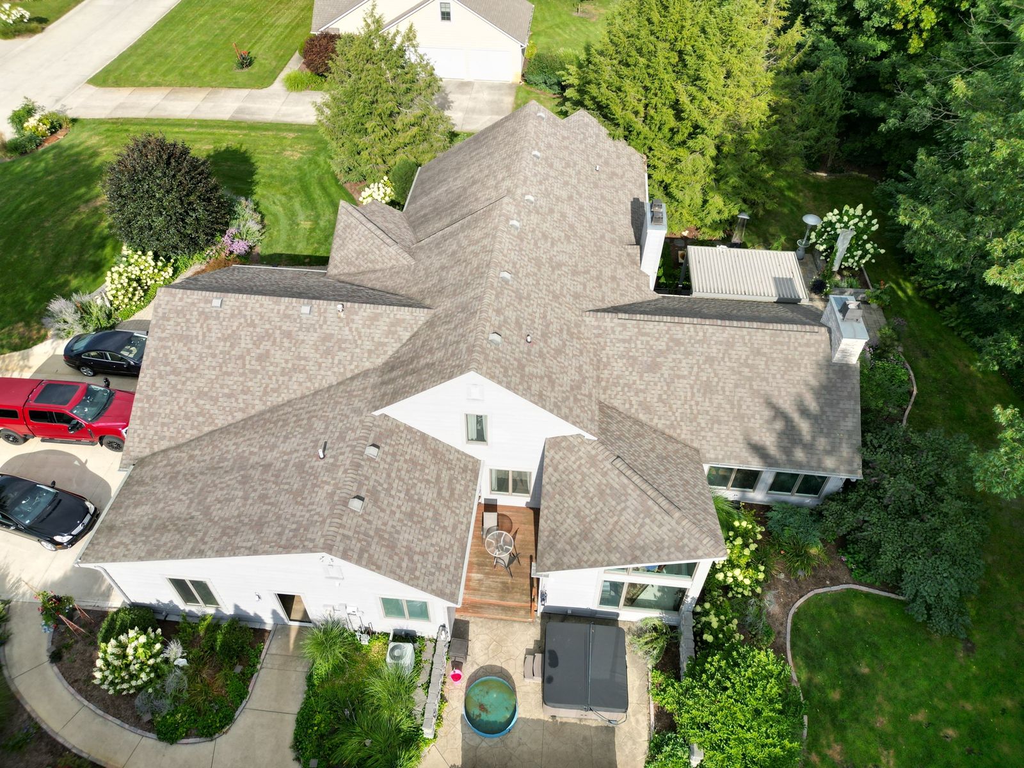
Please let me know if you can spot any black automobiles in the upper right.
No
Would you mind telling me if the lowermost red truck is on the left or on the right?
left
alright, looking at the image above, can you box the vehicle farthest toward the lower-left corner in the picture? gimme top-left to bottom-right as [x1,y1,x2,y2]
[0,479,100,553]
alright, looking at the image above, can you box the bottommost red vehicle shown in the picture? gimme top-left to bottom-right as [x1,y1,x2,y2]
[0,377,135,451]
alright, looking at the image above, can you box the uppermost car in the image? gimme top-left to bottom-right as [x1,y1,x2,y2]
[59,332,149,378]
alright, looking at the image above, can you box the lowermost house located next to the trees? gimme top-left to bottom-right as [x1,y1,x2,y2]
[71,100,871,645]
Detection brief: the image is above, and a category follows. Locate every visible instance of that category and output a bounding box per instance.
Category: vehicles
[0,479,100,553]
[59,332,149,378]
[0,377,135,451]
